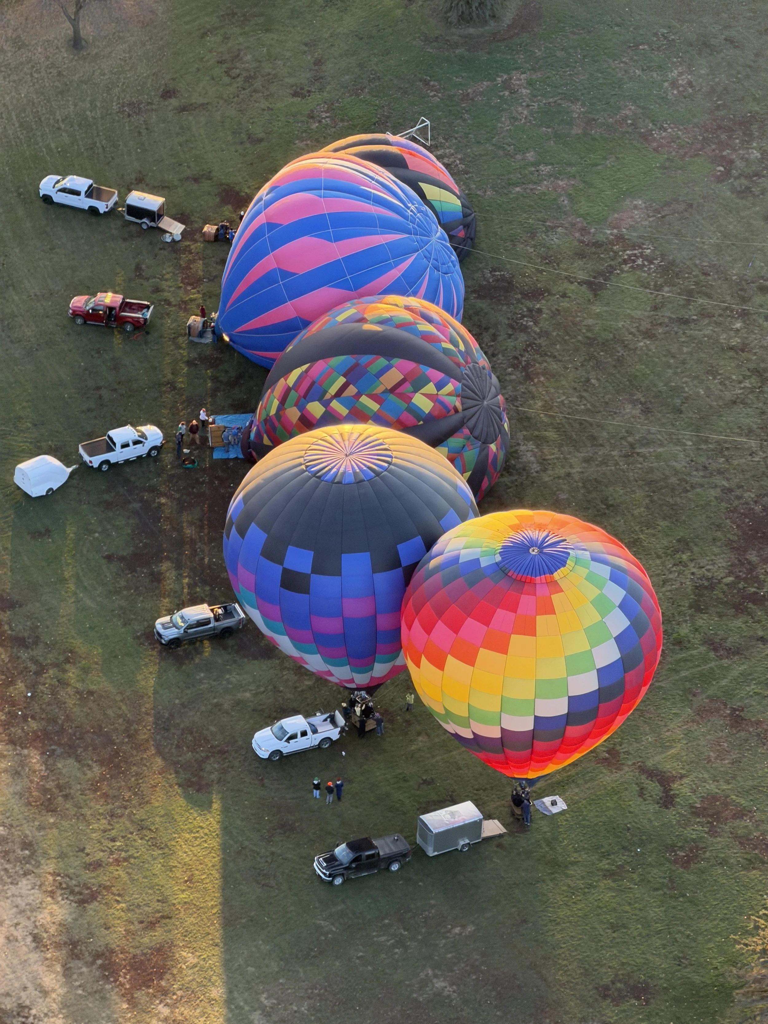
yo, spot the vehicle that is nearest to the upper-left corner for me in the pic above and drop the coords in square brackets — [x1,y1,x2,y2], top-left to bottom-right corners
[38,177,119,217]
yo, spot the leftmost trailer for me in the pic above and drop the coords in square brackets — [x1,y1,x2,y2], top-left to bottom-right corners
[15,462,69,499]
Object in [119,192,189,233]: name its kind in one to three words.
trailer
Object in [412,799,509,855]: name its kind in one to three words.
trailer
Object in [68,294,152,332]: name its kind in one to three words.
truck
